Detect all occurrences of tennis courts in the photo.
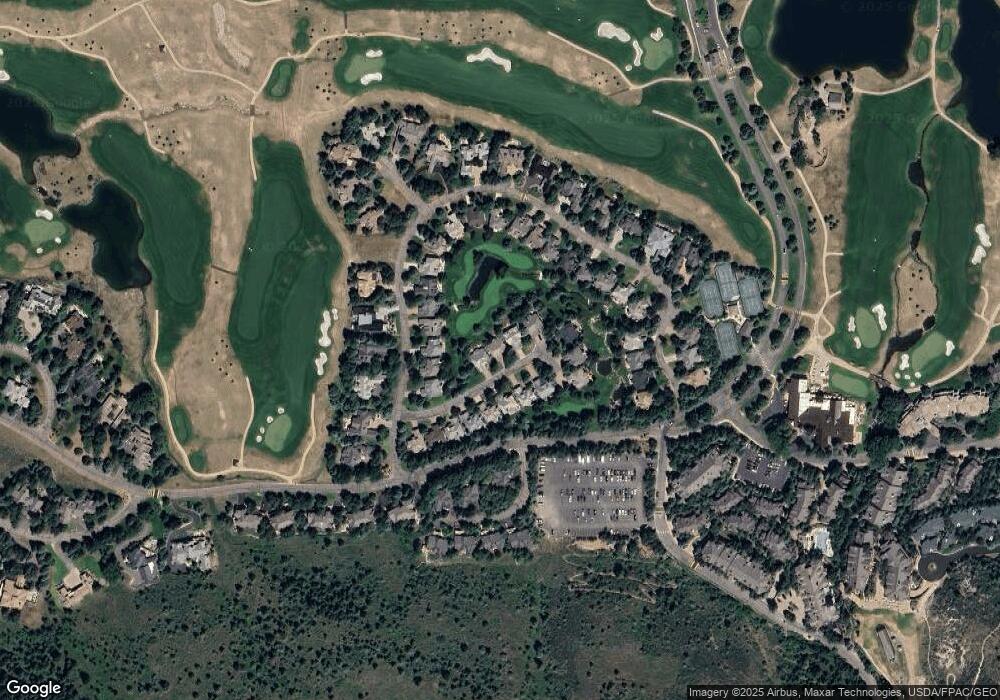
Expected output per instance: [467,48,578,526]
[714,320,740,361]
[737,276,765,318]
[698,277,726,319]
[714,263,740,303]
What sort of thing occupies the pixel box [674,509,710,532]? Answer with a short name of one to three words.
building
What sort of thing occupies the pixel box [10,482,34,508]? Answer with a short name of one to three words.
house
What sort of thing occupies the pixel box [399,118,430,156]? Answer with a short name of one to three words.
house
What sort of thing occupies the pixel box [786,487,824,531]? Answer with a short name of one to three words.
building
